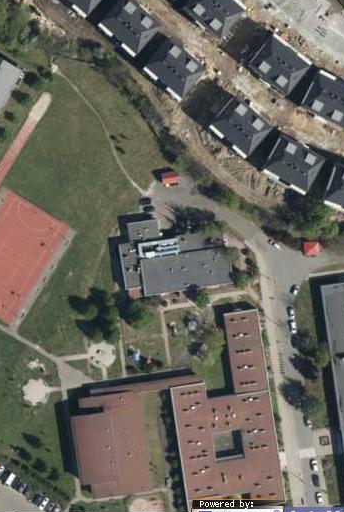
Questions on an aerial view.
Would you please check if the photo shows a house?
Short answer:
Yes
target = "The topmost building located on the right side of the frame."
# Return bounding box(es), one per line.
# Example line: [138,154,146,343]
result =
[182,0,249,39]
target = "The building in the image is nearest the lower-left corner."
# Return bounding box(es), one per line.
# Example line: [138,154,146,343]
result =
[69,392,152,498]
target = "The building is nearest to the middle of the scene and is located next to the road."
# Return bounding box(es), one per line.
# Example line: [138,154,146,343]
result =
[117,220,234,296]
